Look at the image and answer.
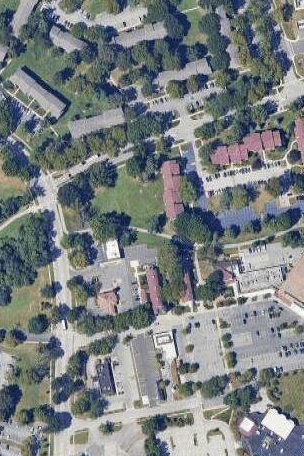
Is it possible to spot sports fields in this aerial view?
No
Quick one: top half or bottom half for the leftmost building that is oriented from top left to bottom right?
top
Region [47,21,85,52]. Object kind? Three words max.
building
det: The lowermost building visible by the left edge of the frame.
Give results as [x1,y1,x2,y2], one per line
[10,69,65,116]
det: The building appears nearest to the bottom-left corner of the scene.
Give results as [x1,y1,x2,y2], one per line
[97,359,115,396]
